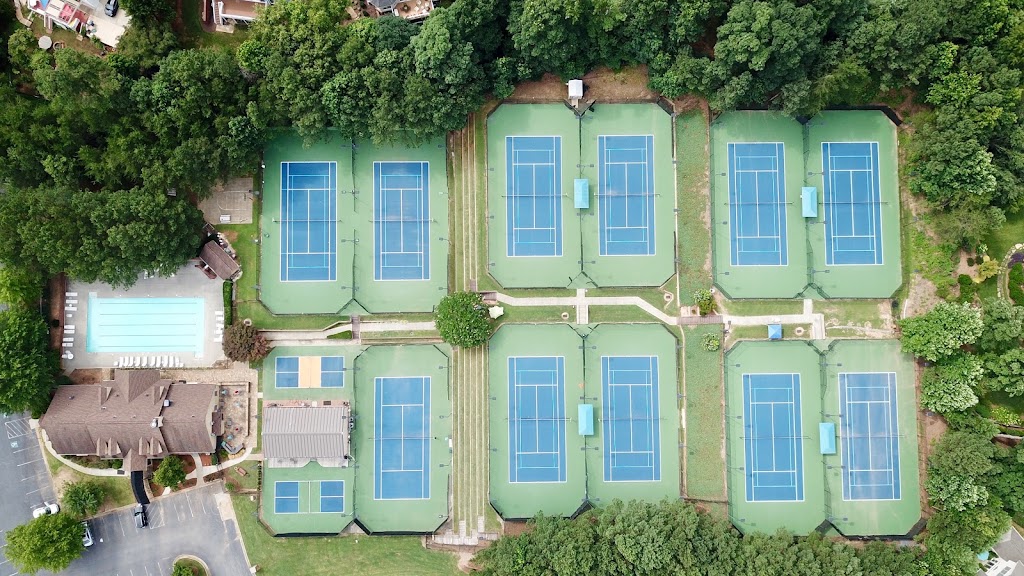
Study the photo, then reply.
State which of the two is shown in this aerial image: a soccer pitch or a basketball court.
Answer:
basketball court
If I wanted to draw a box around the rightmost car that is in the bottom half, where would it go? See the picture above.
[132,503,150,529]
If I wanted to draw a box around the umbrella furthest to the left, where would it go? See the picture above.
[39,35,53,50]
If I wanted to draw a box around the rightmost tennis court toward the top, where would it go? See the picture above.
[805,109,903,297]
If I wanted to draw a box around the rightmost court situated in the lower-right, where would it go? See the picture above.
[822,340,921,533]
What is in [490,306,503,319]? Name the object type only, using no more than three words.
umbrella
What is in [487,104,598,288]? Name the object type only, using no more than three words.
tennis court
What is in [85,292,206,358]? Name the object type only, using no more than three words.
swimming pool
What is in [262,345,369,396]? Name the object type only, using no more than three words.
sports court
